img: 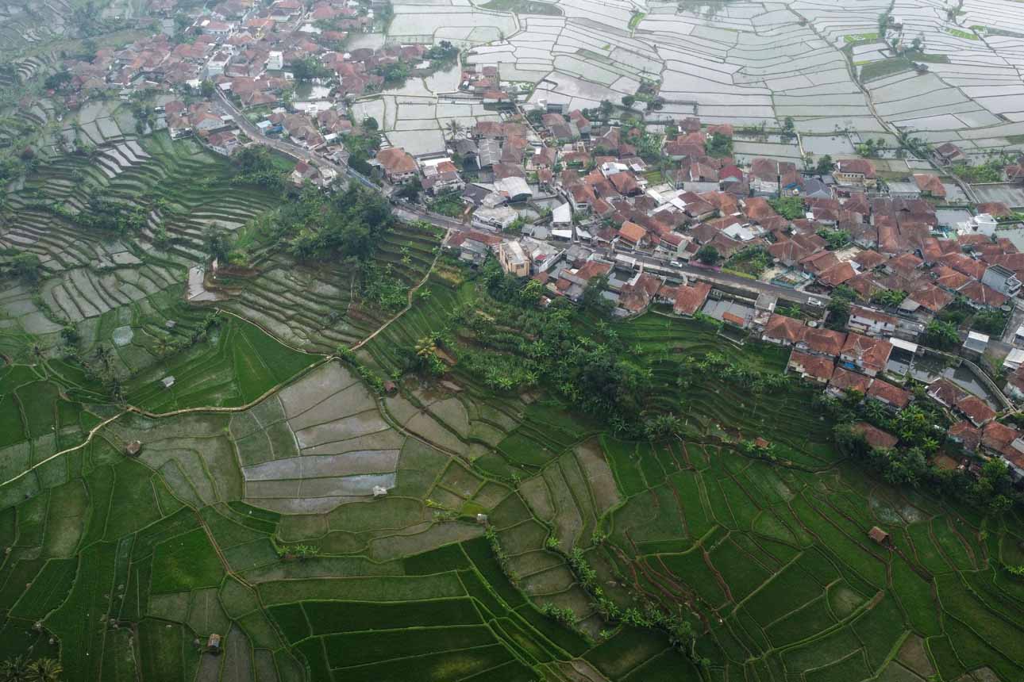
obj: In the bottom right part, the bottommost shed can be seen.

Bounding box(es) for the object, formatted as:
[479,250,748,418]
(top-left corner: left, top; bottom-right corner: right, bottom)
[869,521,894,545]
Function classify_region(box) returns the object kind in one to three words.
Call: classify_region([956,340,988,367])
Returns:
shed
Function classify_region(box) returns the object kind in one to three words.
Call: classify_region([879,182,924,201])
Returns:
house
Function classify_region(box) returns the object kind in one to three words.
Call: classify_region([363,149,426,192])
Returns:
house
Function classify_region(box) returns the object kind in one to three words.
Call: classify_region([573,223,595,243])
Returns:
shed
